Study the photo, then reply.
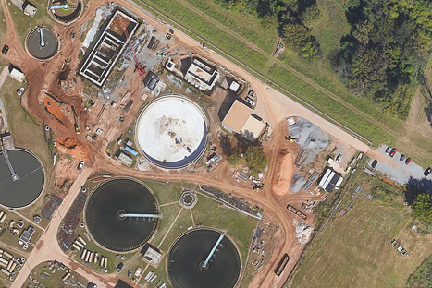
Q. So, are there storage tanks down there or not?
Yes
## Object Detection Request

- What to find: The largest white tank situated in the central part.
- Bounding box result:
[134,94,209,170]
